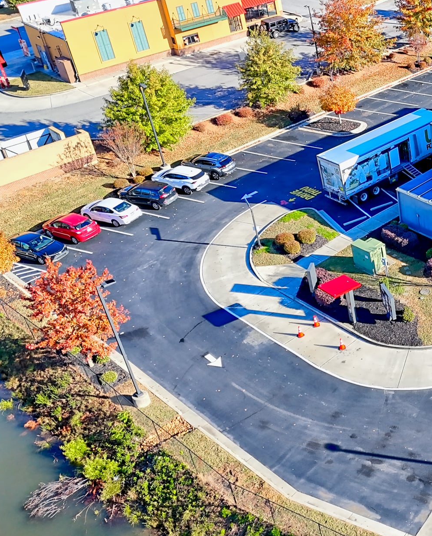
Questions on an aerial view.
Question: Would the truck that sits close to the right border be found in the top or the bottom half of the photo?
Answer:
top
